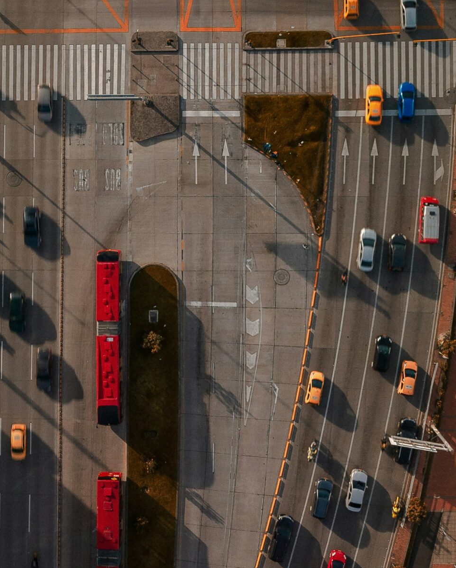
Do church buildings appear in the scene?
No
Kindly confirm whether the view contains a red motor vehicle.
Yes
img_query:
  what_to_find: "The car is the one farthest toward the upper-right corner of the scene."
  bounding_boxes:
[398,0,419,31]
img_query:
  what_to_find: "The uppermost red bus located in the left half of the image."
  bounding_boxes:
[95,252,124,425]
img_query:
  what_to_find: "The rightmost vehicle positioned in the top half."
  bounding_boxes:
[414,195,443,245]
